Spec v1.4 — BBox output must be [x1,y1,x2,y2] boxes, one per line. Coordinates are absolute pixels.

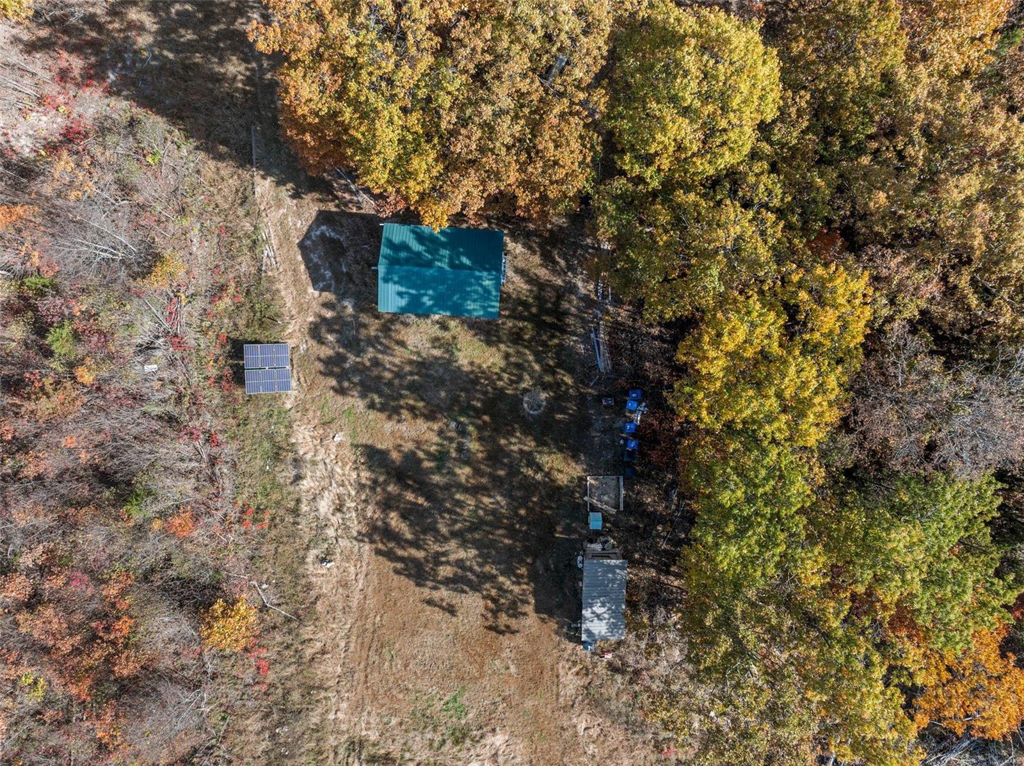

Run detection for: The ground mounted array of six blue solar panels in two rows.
[243,344,292,393]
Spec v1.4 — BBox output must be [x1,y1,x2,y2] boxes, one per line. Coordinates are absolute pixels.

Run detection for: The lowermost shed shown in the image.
[580,553,628,642]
